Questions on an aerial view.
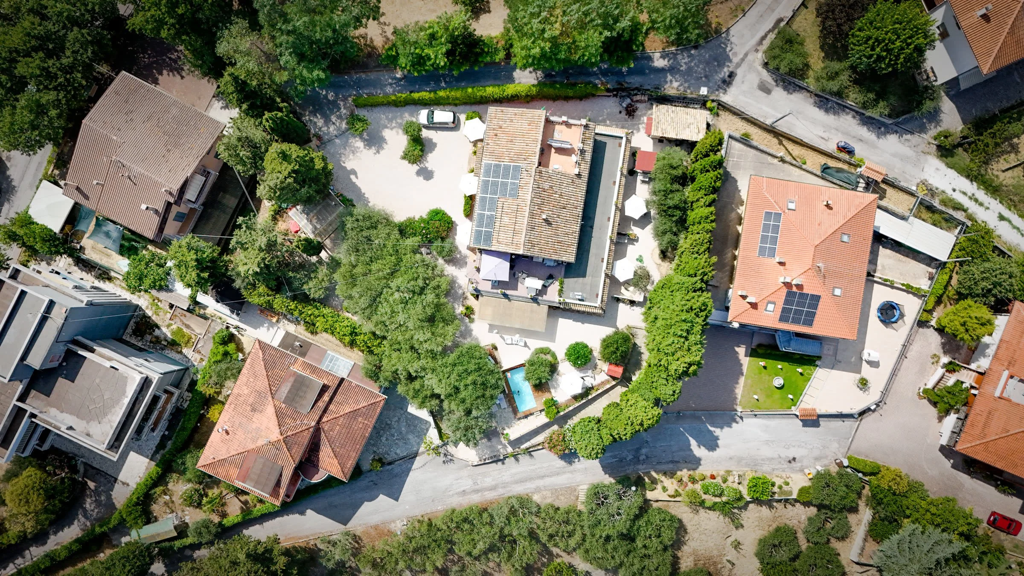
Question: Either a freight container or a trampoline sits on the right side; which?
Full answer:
The one visible on the right side is a trampoline.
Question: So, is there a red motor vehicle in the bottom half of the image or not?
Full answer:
Yes, in the bottom half of the image there is a red motor vehicle.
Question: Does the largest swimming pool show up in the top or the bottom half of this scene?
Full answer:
Seen from above, the largest swimming pool lies in the bottom half of the view.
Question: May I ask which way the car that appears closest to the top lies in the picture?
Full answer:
From this overhead view, the car that appears closest to the top appears to run from left to right.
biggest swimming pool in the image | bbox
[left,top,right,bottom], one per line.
[502,363,553,419]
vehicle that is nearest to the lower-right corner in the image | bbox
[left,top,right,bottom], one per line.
[988,513,1024,536]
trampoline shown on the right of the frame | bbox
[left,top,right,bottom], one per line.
[877,299,914,326]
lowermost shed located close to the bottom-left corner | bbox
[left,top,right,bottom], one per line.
[131,513,182,538]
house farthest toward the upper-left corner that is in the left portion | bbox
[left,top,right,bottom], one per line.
[55,71,242,242]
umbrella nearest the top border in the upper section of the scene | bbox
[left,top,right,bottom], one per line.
[462,118,485,142]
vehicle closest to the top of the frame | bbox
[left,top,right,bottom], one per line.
[417,106,457,127]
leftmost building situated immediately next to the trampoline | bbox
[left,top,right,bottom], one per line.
[718,174,879,355]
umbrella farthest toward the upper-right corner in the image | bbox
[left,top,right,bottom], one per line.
[624,195,646,220]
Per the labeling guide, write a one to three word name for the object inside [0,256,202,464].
building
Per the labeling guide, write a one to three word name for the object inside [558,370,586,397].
umbrella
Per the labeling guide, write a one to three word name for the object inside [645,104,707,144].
shed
